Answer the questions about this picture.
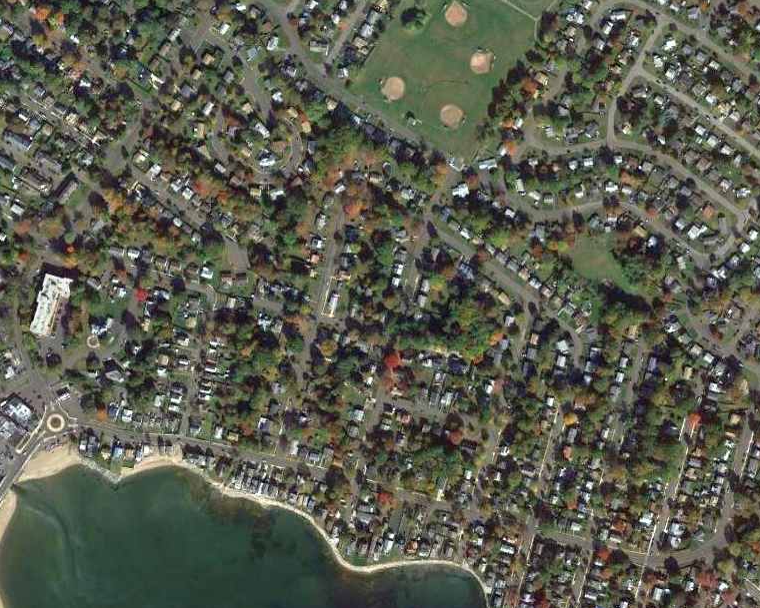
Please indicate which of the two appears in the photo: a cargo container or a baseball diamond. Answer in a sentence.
It is a baseball diamond that can be seen here.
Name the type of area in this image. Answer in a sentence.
The area seen from above is a residential area.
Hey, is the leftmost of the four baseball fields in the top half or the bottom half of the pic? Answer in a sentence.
You can find the leftmost of the four baseball fields in the top half.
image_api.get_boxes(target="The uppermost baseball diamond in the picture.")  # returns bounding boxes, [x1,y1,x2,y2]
[429,0,485,38]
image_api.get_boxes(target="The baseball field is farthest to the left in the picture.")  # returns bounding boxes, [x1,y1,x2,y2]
[378,57,421,110]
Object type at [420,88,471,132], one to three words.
baseball field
